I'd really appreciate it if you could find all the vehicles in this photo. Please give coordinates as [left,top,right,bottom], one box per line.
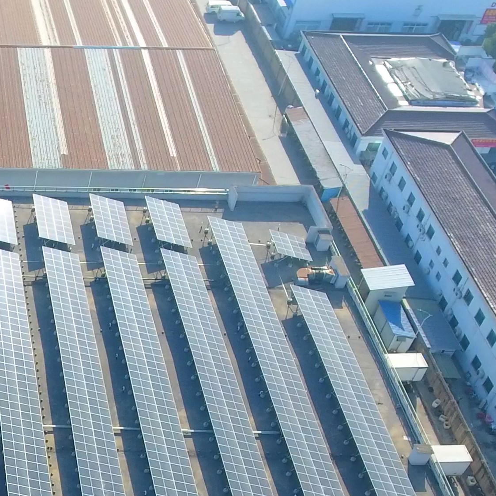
[216,6,247,22]
[204,0,233,12]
